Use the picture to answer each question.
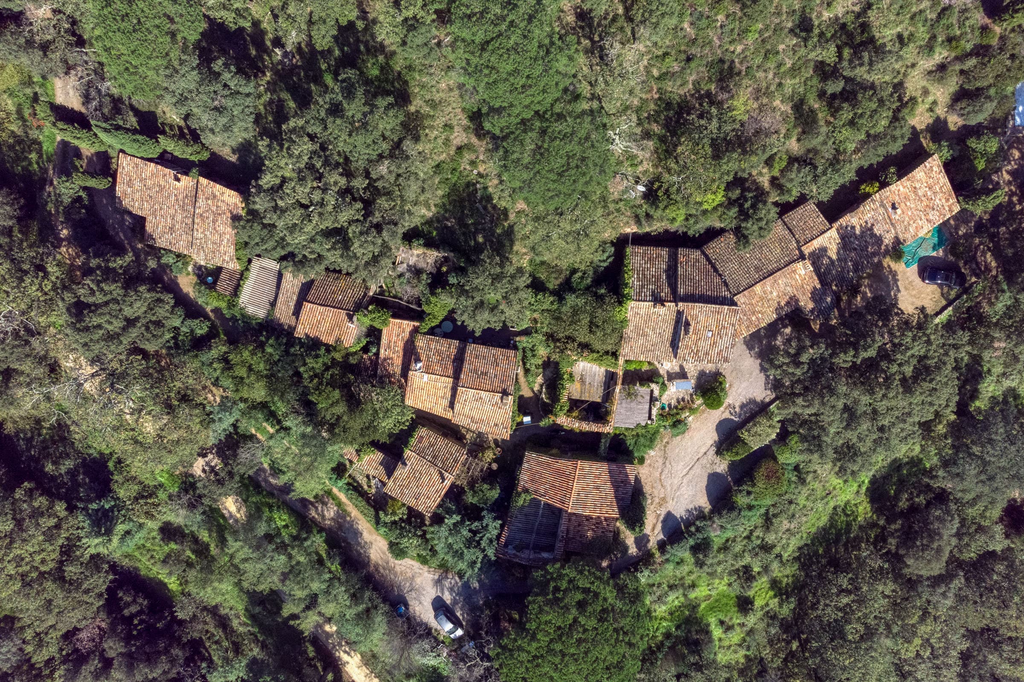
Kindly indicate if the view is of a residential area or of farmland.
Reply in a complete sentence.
It's a residential area.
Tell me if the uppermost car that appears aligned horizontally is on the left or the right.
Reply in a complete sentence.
The uppermost car that appears aligned horizontally is on the right side of the image.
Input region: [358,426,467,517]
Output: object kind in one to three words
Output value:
house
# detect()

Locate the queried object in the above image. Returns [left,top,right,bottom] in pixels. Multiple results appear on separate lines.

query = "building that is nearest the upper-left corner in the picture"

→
[115,153,255,269]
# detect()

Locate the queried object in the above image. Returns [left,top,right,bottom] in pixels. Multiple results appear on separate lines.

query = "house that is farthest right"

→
[793,154,961,285]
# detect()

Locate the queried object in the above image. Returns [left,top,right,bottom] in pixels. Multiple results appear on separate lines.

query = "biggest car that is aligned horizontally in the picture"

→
[921,267,968,290]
